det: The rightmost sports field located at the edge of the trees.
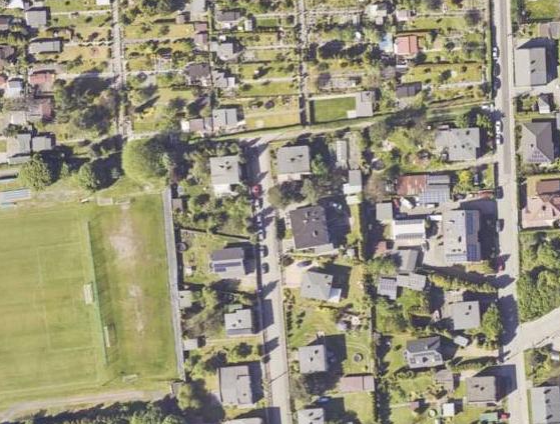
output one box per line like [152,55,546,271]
[86,193,178,384]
